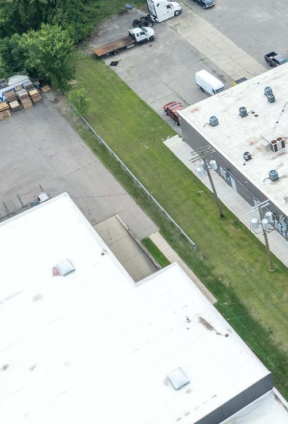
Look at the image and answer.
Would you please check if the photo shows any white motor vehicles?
Yes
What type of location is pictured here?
industrial area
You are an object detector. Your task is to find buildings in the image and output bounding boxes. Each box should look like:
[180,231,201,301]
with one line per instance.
[0,193,273,424]
[177,62,288,238]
